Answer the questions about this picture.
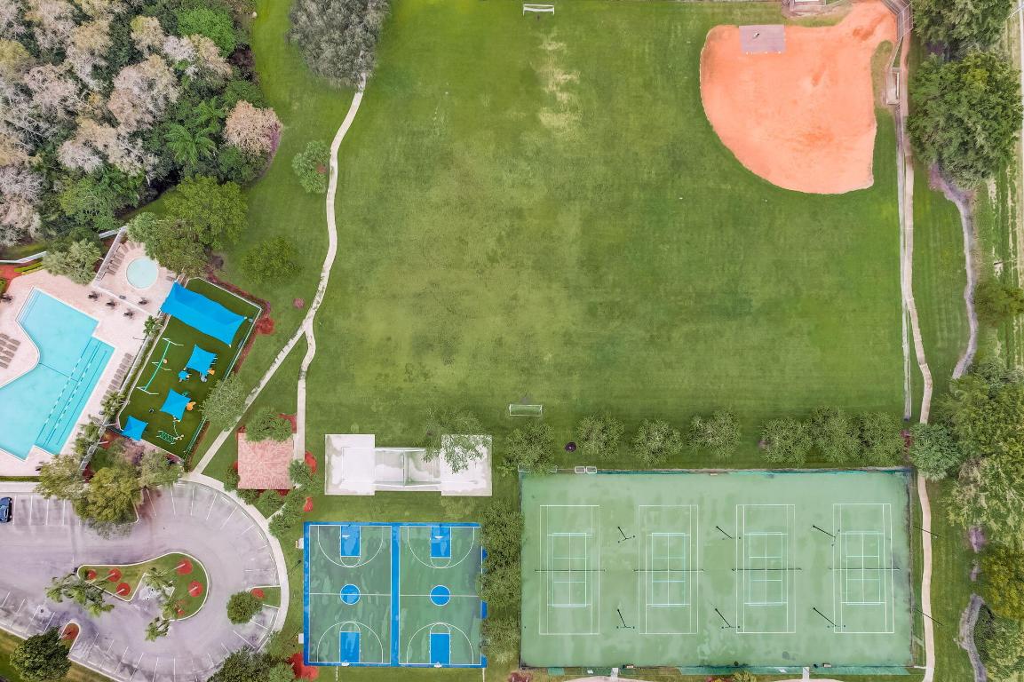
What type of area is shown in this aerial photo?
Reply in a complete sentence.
This image shows a sports ground.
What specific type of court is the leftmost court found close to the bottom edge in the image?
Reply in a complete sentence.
I'd say the leftmost court found close to the bottom edge is a basketball court.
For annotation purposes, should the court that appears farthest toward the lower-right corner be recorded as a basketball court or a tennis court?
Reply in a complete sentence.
It turns out the court that appears farthest toward the lower-right corner is a tennis court.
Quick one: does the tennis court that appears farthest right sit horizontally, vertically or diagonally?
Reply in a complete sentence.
I'd say the tennis court that appears farthest right is aligned vertically in the picture.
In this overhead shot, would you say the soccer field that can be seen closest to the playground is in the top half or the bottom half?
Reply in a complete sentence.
Seen from above, the soccer field that can be seen closest to the playground lies in the top half of the view.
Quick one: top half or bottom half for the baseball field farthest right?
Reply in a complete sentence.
You can find the baseball field farthest right in the top half.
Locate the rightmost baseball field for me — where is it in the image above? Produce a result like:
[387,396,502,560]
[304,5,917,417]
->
[699,0,898,195]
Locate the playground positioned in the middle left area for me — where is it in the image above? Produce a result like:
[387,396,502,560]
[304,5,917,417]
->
[117,277,260,460]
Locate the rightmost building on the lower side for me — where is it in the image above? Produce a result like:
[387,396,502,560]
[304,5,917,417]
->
[238,434,295,489]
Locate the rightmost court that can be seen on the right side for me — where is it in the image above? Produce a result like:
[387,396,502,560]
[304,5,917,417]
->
[827,493,901,644]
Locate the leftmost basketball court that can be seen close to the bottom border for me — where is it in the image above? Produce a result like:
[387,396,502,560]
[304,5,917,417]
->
[309,525,391,663]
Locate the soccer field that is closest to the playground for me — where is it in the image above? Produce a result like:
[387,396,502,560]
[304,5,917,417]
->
[339,7,857,416]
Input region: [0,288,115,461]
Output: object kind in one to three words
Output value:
swimming pool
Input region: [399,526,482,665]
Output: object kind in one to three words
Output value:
basketball court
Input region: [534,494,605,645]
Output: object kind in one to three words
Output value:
tennis court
